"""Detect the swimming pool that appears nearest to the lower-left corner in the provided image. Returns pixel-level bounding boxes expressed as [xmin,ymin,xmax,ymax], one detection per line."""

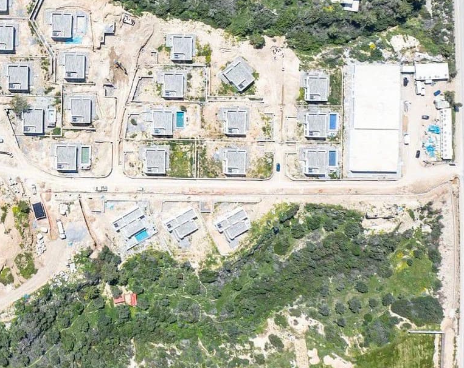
[122,223,157,248]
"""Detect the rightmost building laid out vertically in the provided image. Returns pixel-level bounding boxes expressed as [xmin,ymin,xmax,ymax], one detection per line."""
[438,109,453,160]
